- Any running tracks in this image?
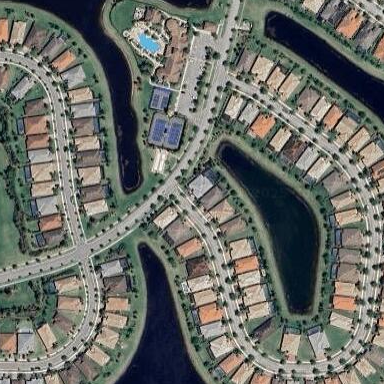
No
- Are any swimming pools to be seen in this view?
Yes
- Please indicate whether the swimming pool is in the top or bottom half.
top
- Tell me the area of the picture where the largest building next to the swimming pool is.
top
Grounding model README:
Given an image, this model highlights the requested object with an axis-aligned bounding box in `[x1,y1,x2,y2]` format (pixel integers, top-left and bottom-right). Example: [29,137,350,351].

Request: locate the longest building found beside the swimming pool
[153,17,189,84]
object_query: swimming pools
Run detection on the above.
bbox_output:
[127,21,168,60]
